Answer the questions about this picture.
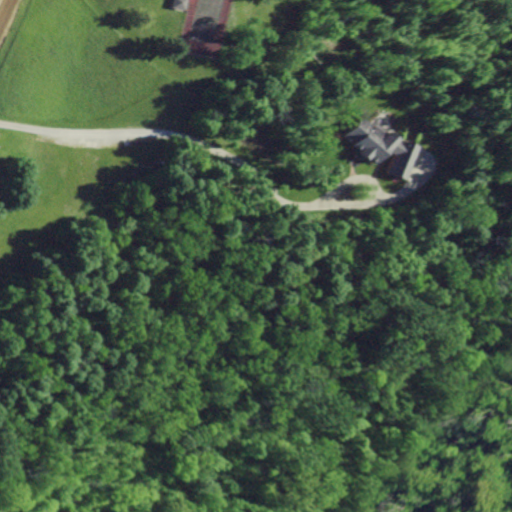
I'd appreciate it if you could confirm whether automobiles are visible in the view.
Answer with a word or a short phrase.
No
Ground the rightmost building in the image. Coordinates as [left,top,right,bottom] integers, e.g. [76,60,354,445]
[395,141,423,182]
